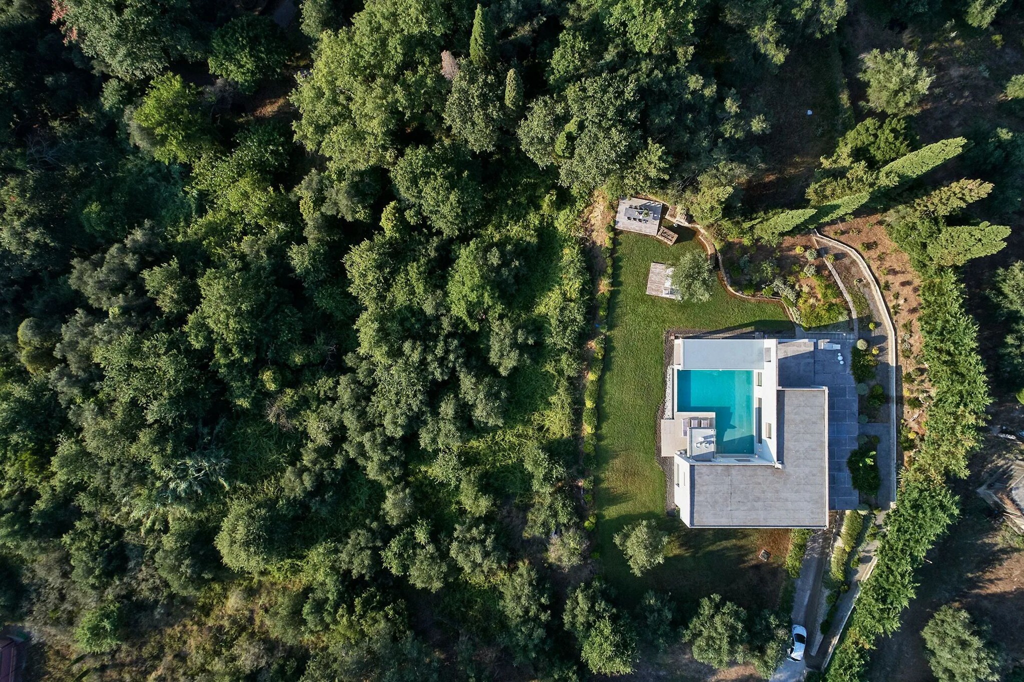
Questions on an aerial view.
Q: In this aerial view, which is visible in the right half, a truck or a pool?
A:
pool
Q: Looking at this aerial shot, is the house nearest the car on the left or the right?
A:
right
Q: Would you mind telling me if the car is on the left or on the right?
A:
right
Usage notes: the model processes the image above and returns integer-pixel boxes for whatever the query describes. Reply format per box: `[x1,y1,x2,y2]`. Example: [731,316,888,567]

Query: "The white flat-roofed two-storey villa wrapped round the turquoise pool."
[675,340,829,528]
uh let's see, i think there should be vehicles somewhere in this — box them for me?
[788,627,811,665]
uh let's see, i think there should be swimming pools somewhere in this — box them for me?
[670,367,756,456]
